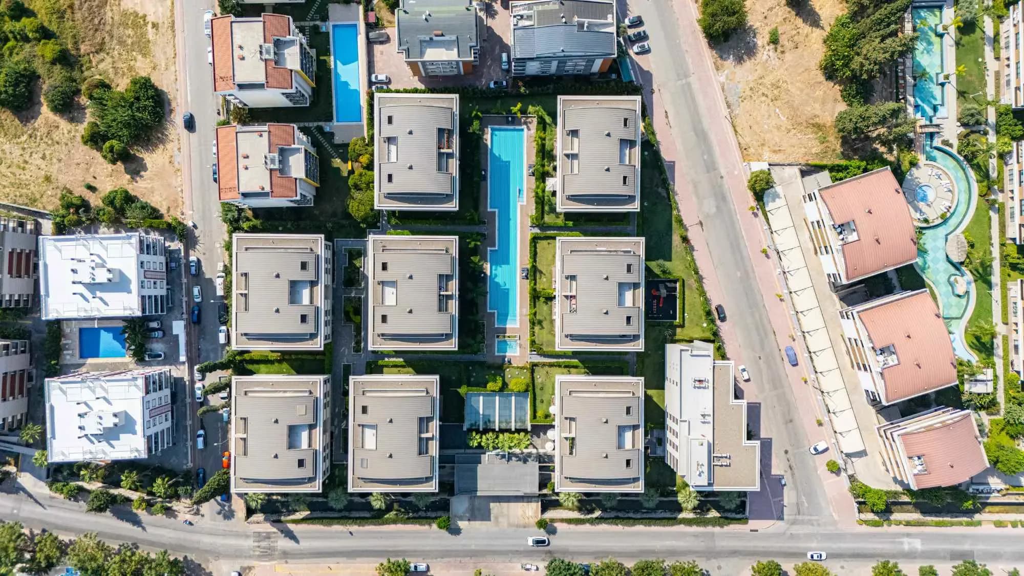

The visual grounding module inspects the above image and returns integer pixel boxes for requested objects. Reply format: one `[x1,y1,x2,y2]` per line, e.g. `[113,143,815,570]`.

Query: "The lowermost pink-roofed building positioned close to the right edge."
[876,403,991,490]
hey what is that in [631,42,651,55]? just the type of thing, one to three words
vehicle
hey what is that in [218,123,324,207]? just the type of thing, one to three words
house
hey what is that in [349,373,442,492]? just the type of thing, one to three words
building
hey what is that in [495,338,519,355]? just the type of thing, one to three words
swimming pool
